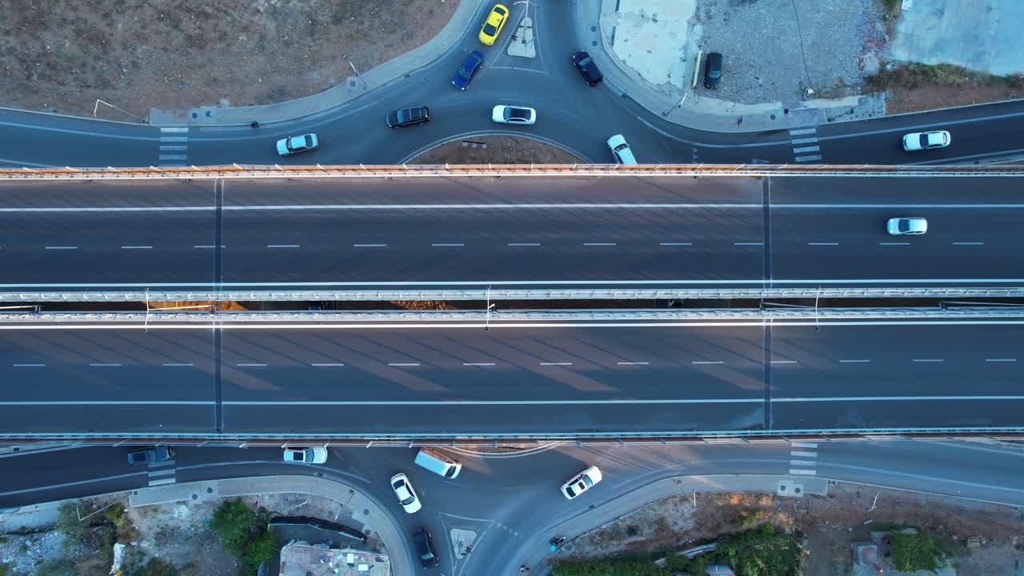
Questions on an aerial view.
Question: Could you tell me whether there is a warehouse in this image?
No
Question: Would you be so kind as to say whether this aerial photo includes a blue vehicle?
Yes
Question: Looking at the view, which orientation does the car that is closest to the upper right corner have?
from side to side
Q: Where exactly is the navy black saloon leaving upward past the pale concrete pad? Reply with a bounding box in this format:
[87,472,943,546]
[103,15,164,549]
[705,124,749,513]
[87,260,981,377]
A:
[570,50,605,91]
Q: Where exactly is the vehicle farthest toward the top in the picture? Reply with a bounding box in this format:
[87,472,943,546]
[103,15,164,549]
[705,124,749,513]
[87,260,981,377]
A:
[481,3,509,48]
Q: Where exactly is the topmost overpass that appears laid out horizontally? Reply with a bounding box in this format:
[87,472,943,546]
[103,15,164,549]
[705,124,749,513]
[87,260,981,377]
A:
[0,163,1024,302]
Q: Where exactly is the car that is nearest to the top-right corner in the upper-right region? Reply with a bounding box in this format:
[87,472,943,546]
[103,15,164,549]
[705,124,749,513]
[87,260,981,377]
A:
[900,131,948,152]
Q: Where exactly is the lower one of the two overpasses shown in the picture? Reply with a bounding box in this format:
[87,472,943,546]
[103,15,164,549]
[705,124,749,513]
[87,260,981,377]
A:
[0,307,1024,447]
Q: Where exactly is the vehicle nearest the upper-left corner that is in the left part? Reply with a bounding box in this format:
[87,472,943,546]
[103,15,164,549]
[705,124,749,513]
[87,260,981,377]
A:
[277,133,321,157]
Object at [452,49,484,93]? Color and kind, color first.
blue car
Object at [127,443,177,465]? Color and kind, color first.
blue truck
